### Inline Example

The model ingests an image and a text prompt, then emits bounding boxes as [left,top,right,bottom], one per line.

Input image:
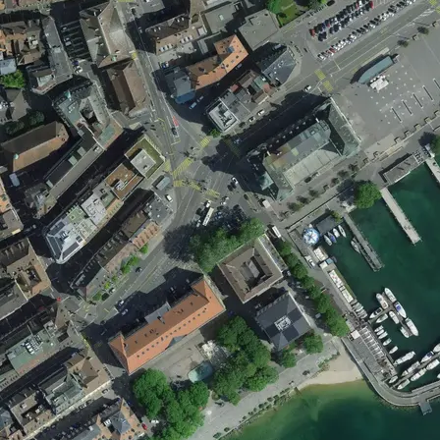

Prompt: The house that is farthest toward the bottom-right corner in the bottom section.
[256,291,314,350]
